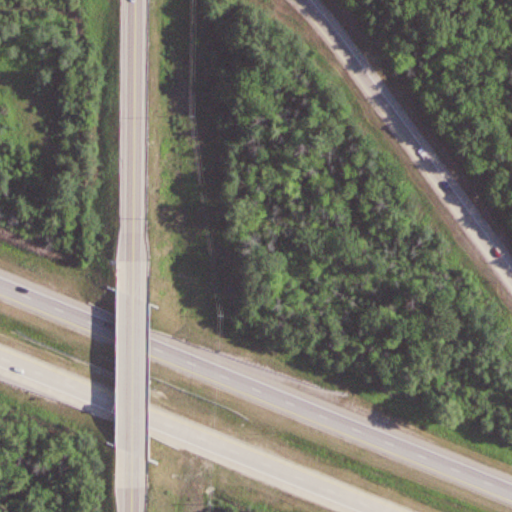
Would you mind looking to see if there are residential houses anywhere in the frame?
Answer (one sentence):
No, the scene contains no residential house.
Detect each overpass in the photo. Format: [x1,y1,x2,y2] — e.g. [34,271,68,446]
[107,261,158,488]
